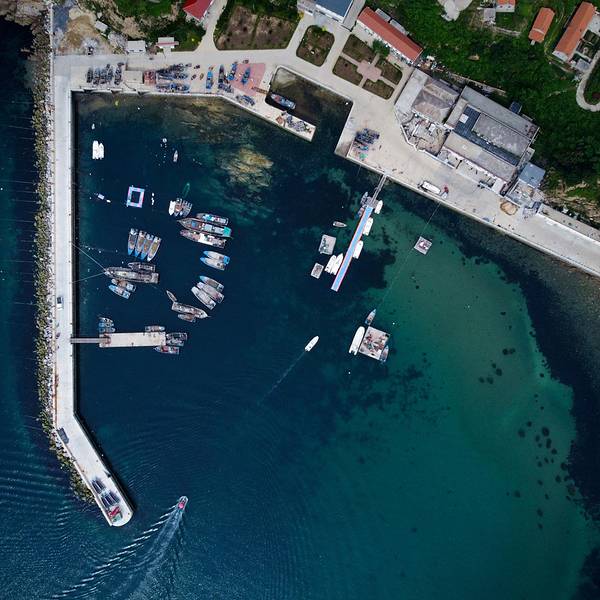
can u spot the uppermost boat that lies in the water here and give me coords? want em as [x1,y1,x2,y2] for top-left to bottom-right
[271,94,297,109]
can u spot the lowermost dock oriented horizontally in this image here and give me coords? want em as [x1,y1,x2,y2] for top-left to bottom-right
[71,332,166,347]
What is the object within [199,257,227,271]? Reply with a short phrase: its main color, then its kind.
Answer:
white boat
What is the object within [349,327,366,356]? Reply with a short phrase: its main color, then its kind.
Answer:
white boat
